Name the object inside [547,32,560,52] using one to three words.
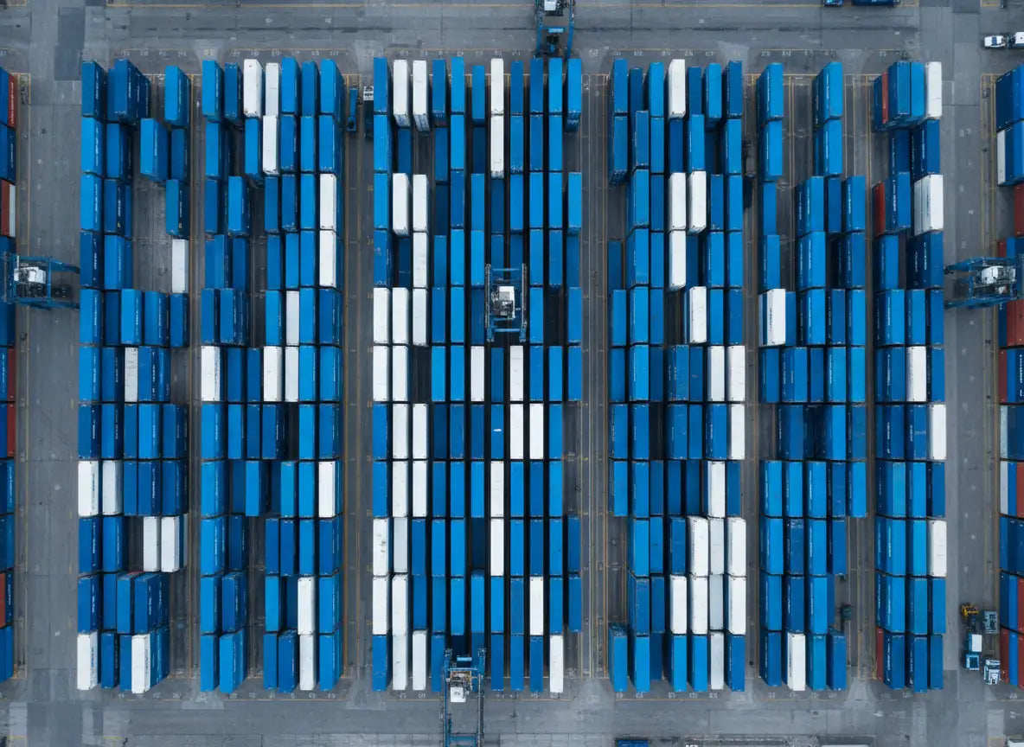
vehicle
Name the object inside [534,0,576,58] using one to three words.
work vehicle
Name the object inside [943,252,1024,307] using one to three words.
work vehicle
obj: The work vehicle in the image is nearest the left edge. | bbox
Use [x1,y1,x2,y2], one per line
[0,252,80,309]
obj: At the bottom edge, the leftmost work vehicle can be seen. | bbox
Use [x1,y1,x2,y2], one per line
[442,632,486,747]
